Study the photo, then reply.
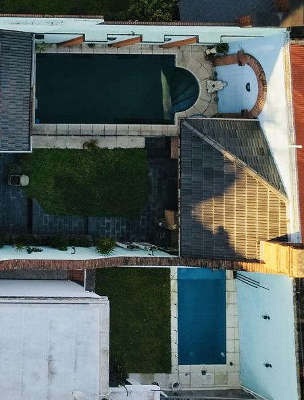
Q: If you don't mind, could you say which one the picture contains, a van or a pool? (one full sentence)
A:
The one in the frame is a pool.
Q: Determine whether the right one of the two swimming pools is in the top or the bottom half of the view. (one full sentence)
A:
It is in the bottom half that the right one of the two swimming pools appears.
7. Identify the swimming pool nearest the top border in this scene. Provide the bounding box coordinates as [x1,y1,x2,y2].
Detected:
[35,42,213,147]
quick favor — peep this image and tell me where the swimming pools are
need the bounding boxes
[35,42,213,147]
[128,267,241,388]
